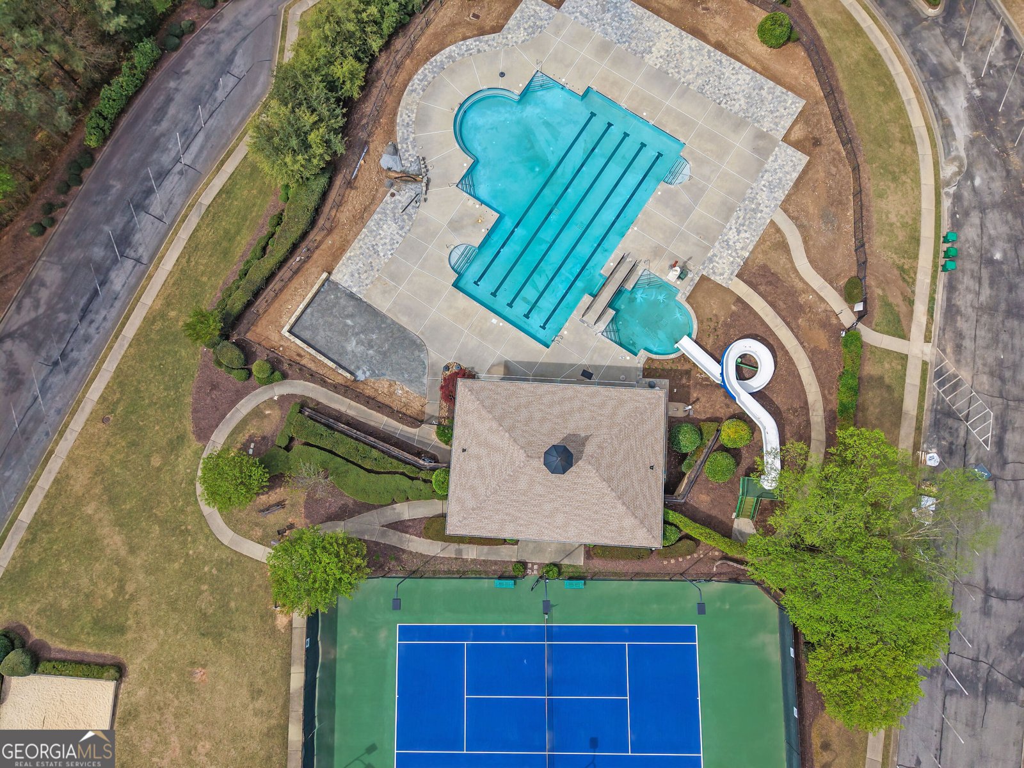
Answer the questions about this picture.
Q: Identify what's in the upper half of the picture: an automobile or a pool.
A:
pool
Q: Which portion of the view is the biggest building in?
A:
center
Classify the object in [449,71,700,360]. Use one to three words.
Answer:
swimming pool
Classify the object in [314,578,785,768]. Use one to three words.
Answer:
tennis court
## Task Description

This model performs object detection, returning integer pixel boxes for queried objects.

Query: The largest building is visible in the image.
[445,377,668,550]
